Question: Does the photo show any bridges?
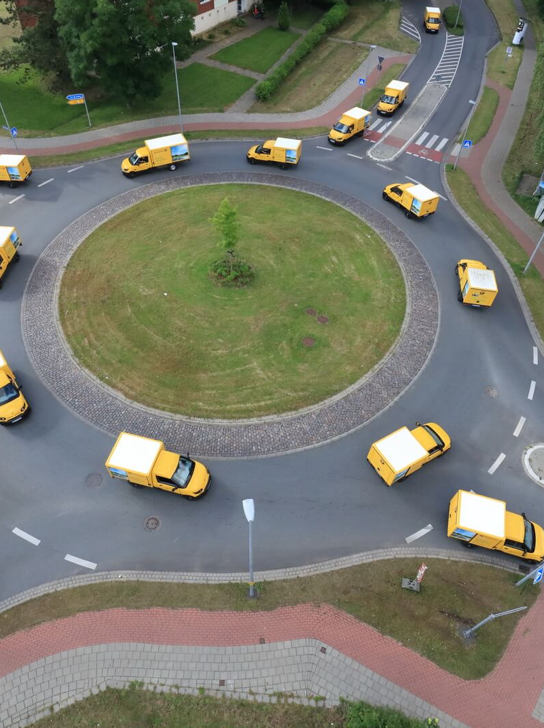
No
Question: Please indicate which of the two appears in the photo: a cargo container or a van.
van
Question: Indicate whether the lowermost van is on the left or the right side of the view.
right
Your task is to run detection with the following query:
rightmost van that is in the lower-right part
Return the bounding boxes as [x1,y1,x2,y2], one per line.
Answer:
[446,491,544,568]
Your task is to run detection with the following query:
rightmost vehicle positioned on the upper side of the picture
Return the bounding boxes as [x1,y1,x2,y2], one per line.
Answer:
[457,259,498,310]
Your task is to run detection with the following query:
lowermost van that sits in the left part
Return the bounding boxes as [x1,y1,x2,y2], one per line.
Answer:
[108,434,210,502]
